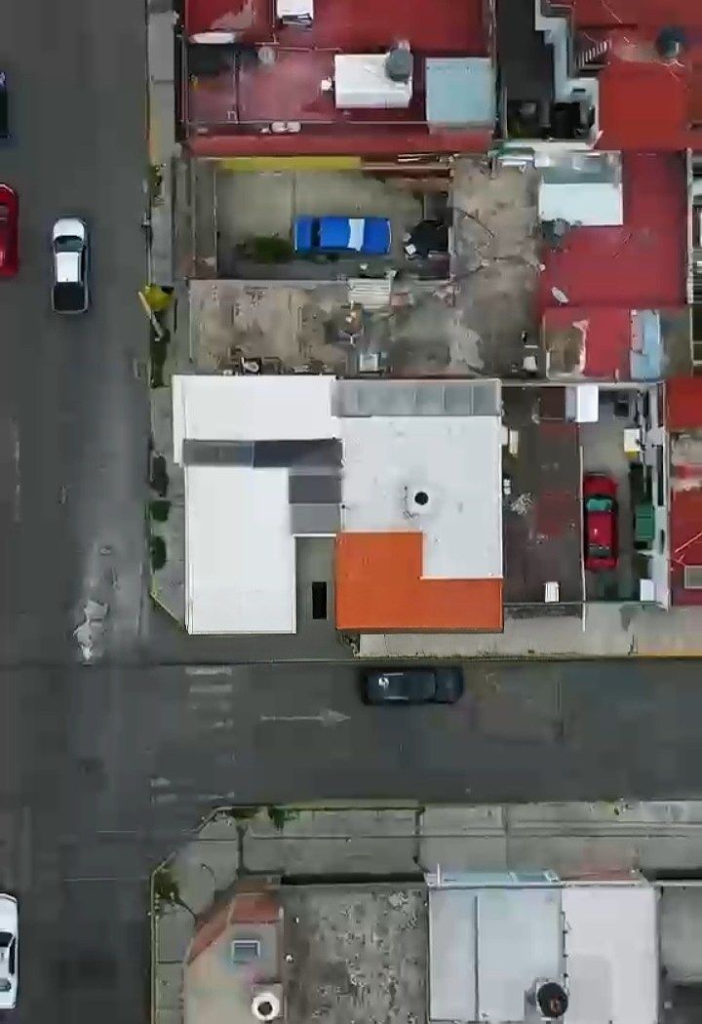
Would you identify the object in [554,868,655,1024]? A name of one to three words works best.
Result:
house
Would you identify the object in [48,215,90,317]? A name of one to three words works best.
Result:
truck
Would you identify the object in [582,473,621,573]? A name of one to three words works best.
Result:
car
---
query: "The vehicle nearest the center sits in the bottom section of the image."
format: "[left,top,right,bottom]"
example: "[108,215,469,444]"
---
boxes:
[359,664,465,708]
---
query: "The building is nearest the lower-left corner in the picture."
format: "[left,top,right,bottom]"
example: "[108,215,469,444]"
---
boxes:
[185,877,284,1024]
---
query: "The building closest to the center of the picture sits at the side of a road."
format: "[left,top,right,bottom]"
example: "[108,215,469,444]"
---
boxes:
[174,375,503,634]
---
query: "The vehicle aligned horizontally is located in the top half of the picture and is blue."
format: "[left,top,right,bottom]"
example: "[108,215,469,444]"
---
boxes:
[292,213,393,256]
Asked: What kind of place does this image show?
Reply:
residential area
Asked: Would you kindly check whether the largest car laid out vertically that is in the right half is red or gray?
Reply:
red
